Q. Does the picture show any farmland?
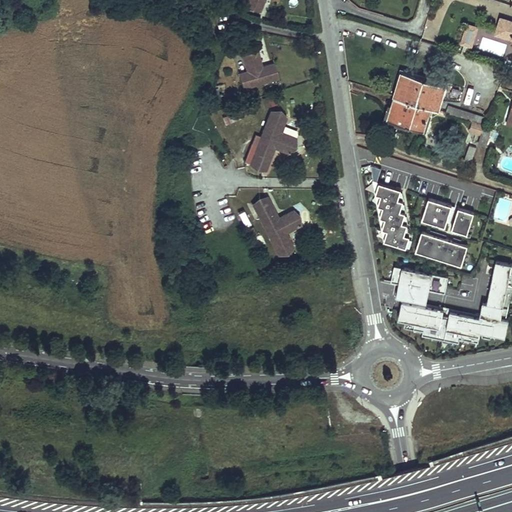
Yes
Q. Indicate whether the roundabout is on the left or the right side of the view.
right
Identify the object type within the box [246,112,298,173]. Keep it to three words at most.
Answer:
house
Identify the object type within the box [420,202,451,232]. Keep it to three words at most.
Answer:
building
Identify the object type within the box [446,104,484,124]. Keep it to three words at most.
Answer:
building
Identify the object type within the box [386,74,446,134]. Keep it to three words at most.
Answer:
house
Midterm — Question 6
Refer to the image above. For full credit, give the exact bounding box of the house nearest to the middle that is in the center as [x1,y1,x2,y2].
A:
[252,196,305,256]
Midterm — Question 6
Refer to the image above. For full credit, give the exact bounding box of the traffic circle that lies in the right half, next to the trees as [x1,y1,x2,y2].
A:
[340,326,432,426]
